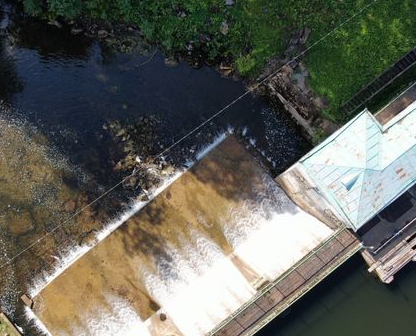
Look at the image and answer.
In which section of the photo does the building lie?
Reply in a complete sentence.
The building is in the right part of the image.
